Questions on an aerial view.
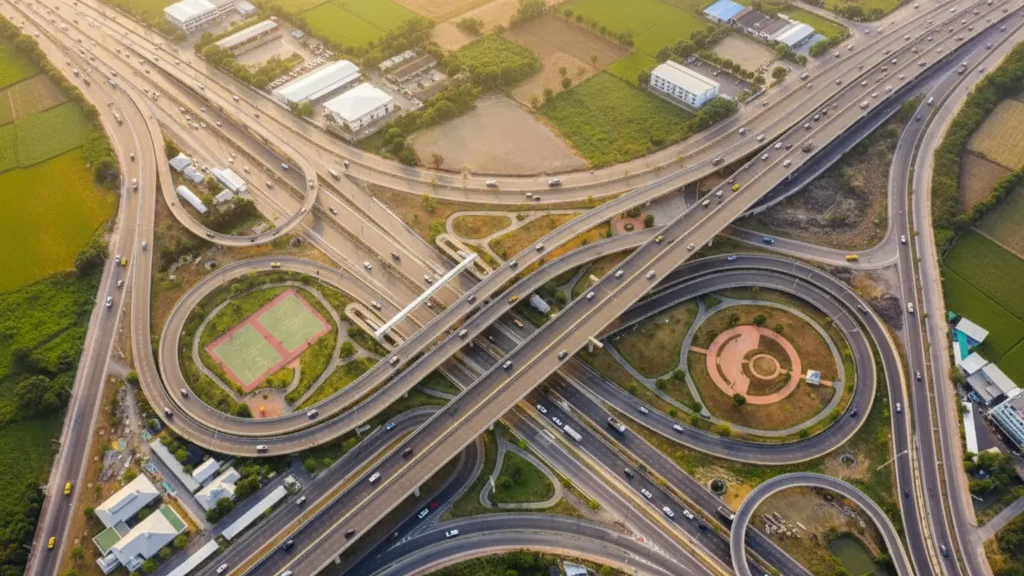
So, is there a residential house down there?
Yes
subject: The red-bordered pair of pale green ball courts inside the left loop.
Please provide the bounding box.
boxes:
[205,288,332,392]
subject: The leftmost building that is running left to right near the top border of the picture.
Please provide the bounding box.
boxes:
[167,0,235,33]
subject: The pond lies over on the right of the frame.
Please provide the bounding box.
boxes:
[830,532,884,576]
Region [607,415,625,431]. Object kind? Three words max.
vehicle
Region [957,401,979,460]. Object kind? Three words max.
shed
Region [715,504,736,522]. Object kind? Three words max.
vehicle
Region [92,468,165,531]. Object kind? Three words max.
building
